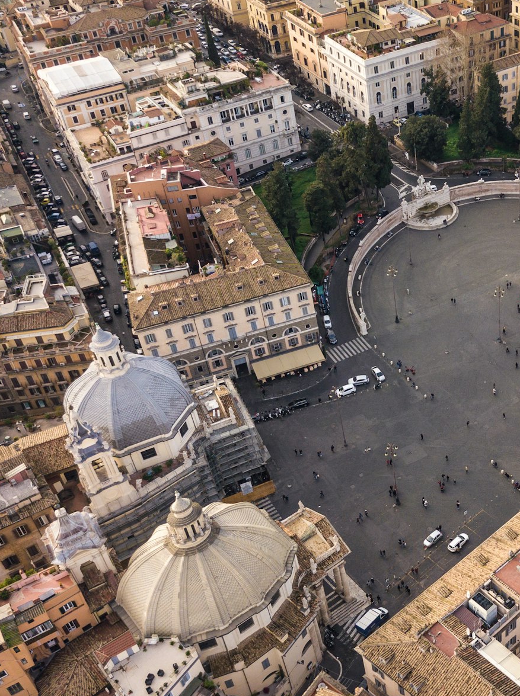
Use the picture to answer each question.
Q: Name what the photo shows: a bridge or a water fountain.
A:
water fountain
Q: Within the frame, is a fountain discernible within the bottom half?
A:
No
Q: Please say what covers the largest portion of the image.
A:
buildings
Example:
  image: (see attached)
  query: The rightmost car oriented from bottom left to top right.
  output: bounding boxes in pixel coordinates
[446,533,469,554]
